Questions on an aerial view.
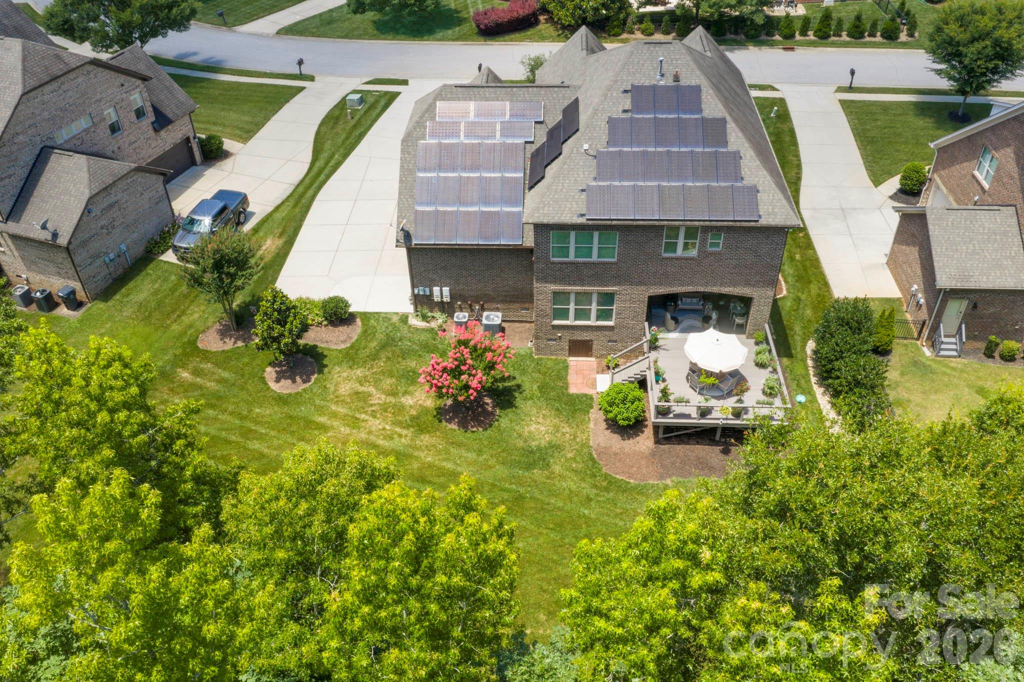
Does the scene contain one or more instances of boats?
No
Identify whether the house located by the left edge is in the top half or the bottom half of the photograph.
top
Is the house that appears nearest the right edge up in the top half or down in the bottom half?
top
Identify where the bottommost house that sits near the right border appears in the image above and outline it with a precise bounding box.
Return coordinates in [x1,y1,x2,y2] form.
[882,101,1024,350]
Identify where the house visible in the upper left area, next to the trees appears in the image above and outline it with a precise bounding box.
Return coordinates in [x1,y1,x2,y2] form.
[0,0,202,302]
